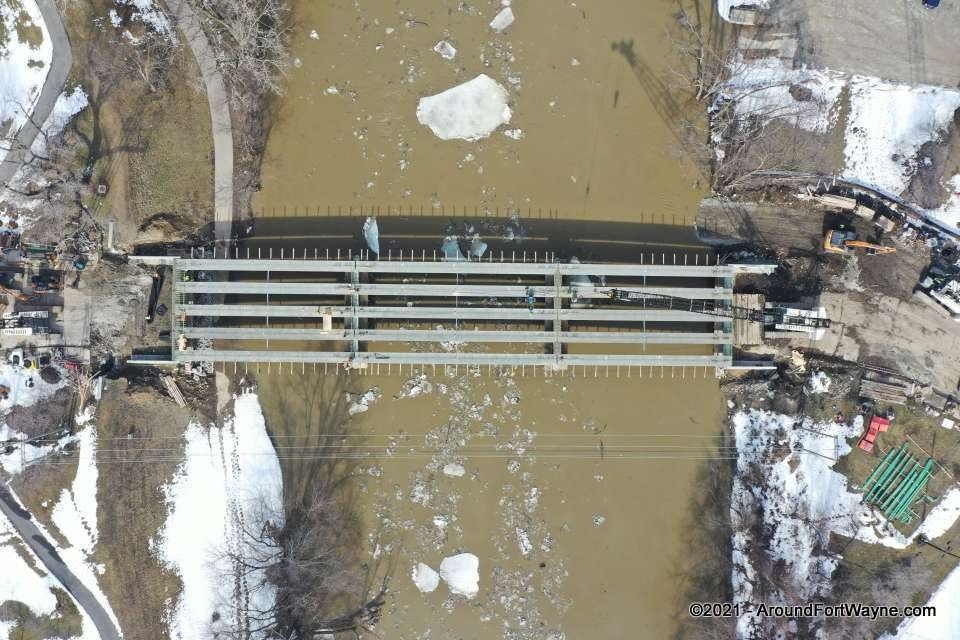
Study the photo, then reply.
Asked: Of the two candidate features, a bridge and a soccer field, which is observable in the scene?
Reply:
bridge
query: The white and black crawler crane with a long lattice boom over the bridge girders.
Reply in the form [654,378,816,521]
[565,288,848,340]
